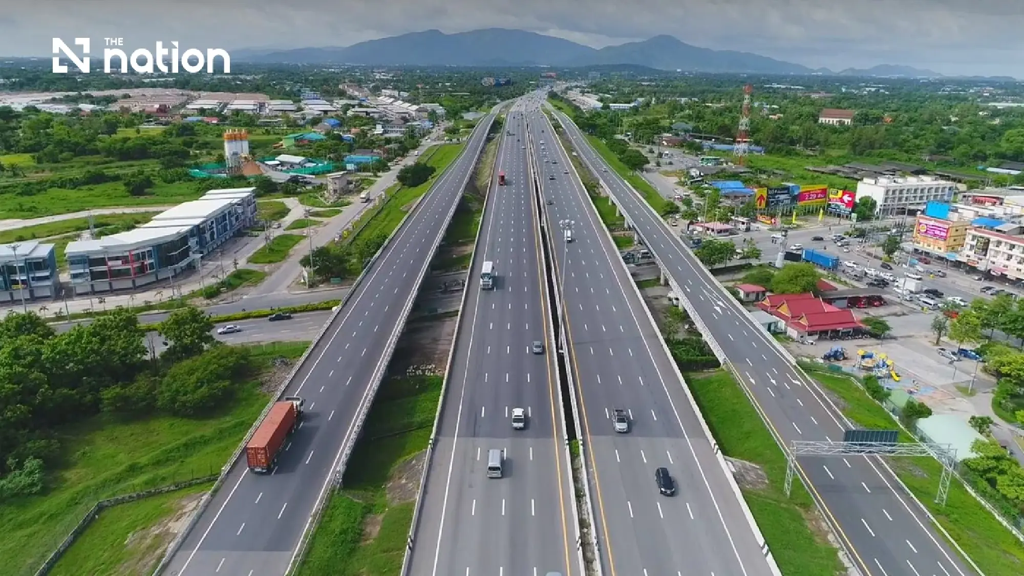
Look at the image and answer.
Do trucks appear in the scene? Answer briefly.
Yes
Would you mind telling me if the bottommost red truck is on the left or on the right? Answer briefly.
left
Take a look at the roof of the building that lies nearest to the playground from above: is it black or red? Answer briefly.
red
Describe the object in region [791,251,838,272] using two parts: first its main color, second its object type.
blue truck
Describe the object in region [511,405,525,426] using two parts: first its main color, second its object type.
white vehicle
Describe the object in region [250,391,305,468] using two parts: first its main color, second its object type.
red truck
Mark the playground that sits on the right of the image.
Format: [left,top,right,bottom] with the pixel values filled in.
[856,342,905,378]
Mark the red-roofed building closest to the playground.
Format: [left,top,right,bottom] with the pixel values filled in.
[757,292,880,341]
